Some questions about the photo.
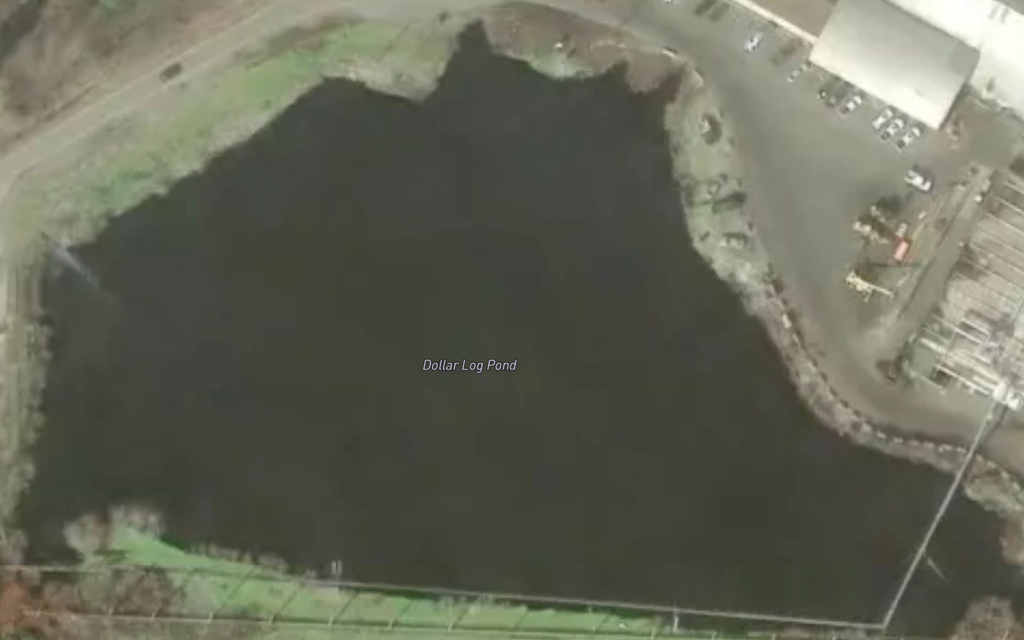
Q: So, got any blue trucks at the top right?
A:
No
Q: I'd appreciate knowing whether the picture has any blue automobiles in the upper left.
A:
No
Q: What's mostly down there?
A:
water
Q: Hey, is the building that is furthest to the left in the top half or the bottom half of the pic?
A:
top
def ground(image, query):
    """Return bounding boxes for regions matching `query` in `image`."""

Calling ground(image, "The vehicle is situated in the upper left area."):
[159,62,183,81]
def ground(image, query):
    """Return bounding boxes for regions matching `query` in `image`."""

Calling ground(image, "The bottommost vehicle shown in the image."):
[846,267,901,301]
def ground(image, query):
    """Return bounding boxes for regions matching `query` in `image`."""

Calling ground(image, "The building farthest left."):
[732,0,836,44]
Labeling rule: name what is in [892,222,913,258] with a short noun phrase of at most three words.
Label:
truck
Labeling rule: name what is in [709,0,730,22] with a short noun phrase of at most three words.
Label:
car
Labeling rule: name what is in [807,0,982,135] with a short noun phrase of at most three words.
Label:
building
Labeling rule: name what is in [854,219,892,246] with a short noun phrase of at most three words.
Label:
work vehicle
